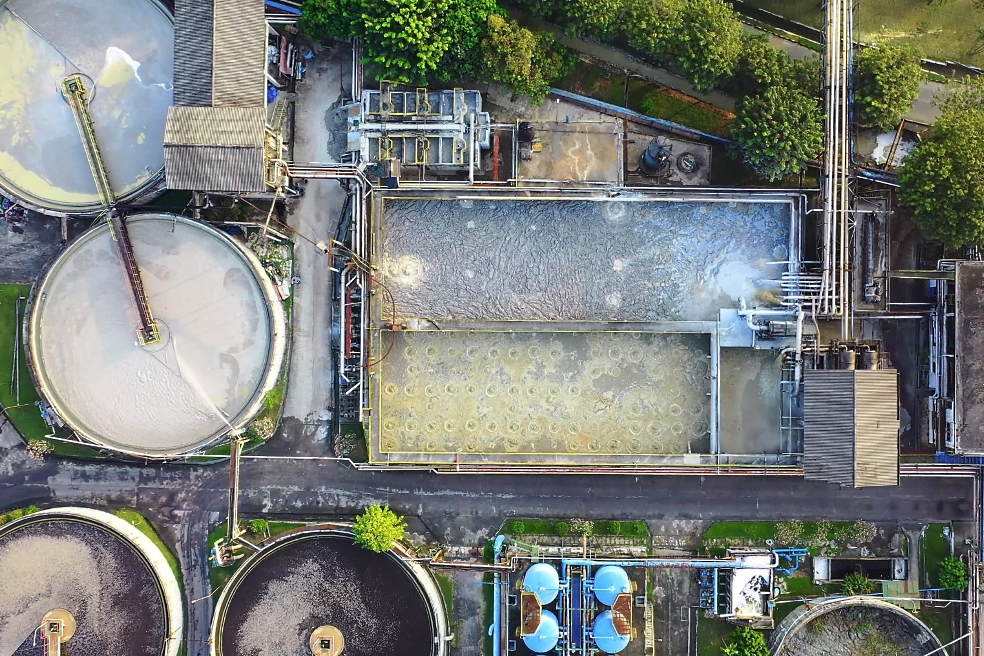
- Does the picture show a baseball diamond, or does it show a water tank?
water tank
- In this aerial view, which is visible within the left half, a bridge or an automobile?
bridge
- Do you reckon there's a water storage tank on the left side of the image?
Yes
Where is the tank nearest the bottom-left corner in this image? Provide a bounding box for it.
[0,505,184,656]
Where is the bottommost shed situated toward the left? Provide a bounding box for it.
[160,108,273,202]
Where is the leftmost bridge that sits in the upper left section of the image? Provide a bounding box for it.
[57,71,118,207]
